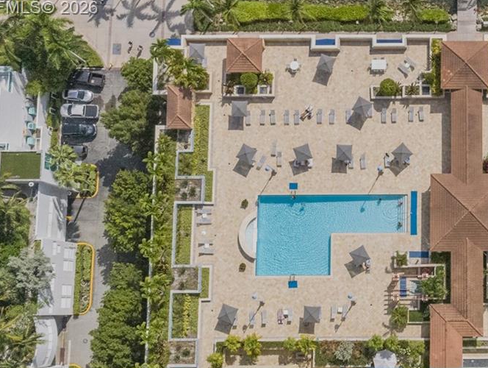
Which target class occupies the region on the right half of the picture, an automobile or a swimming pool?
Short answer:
swimming pool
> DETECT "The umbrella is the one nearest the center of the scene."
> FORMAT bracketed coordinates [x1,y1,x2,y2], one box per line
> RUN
[234,141,258,164]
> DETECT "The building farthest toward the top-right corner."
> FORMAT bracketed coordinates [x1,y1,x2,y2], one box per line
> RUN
[440,41,488,90]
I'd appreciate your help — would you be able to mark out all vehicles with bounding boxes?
[60,102,101,120]
[63,87,95,103]
[69,70,110,89]
[65,143,94,159]
[61,122,99,138]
